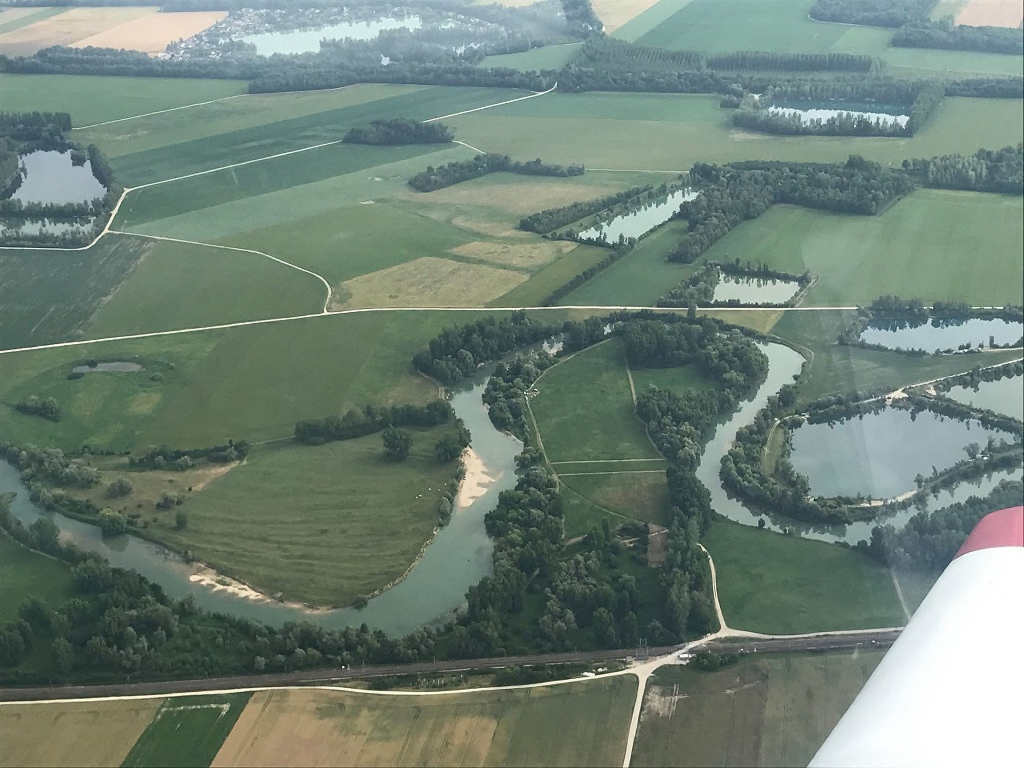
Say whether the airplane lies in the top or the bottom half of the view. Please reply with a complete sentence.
The airplane sits in the bottom half of the picture.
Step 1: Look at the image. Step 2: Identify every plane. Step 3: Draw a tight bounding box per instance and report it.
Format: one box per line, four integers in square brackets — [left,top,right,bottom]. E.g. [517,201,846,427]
[806,504,1024,768]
